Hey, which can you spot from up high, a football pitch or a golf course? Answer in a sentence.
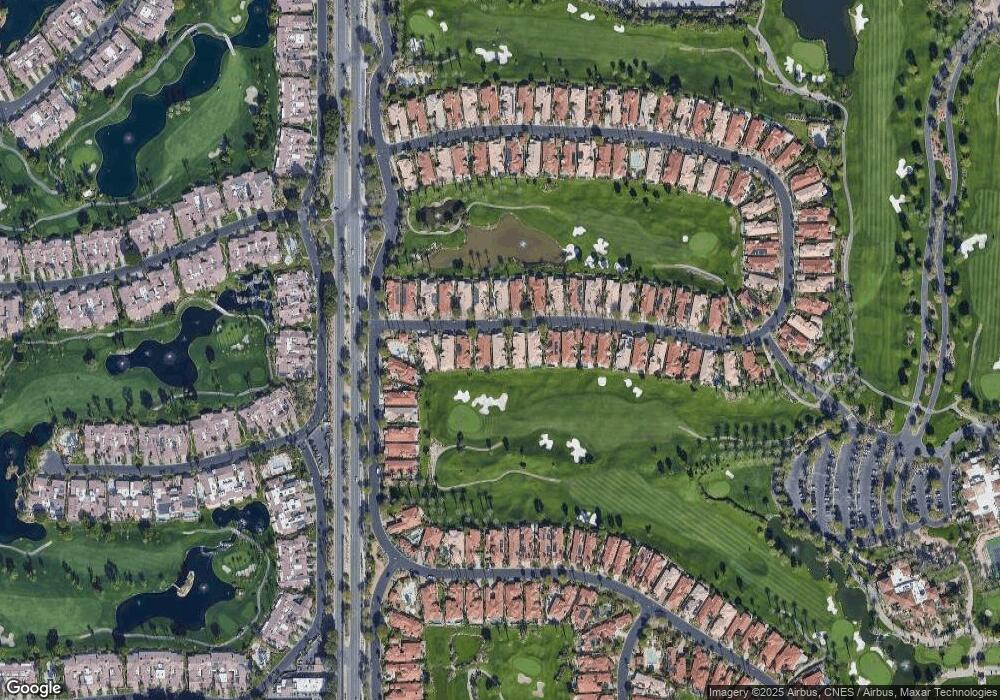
Looking from above, you can make out a golf course.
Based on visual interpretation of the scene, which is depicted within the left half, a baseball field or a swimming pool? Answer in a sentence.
What appears within the left half is a swimming pool.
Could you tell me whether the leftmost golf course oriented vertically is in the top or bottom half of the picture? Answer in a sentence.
The leftmost golf course oriented vertically is in the top half of the image.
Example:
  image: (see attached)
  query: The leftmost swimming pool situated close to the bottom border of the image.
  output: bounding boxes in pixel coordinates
[43,661,57,681]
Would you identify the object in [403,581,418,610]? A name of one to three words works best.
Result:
swimming pool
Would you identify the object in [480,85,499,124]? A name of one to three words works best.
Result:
house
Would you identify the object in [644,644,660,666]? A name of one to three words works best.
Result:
swimming pool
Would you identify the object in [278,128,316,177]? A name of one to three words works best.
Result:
building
